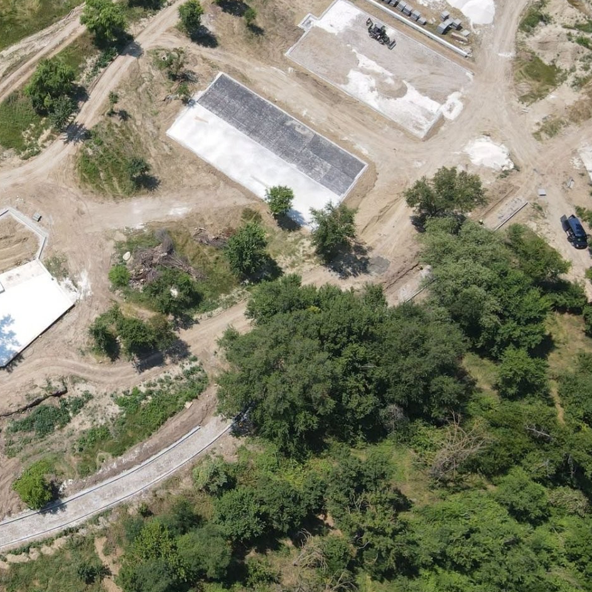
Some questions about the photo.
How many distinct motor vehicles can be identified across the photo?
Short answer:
two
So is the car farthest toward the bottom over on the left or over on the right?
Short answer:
right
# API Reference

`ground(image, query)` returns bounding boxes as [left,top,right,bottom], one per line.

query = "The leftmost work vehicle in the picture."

[367,11,401,51]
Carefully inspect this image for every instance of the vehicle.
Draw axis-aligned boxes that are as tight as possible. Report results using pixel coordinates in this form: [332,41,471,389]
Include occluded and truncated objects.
[563,208,588,247]
[367,11,401,51]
